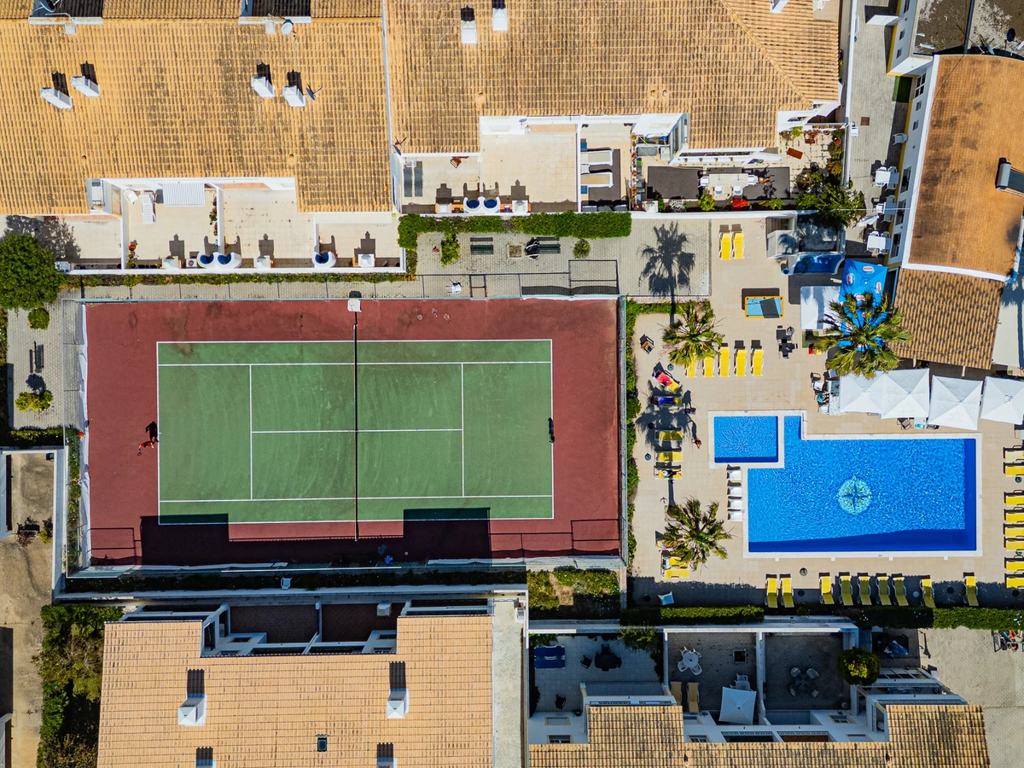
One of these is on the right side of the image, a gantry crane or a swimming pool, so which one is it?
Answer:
swimming pool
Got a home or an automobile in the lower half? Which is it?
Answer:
home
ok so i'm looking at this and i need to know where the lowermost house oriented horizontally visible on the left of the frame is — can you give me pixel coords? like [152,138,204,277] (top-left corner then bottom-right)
[89,590,494,768]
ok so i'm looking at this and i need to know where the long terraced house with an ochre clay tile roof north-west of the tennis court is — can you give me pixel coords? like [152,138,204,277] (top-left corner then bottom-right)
[0,0,400,229]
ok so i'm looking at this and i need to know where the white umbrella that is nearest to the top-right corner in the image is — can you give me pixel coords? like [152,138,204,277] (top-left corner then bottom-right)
[849,216,881,228]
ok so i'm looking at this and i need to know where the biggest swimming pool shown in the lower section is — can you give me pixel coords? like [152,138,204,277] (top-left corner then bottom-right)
[745,411,983,558]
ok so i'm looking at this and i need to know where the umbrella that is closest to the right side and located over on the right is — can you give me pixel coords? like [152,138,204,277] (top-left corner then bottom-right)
[973,373,1024,425]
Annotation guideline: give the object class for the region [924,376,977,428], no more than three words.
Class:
umbrella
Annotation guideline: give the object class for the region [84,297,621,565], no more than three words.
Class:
tennis court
